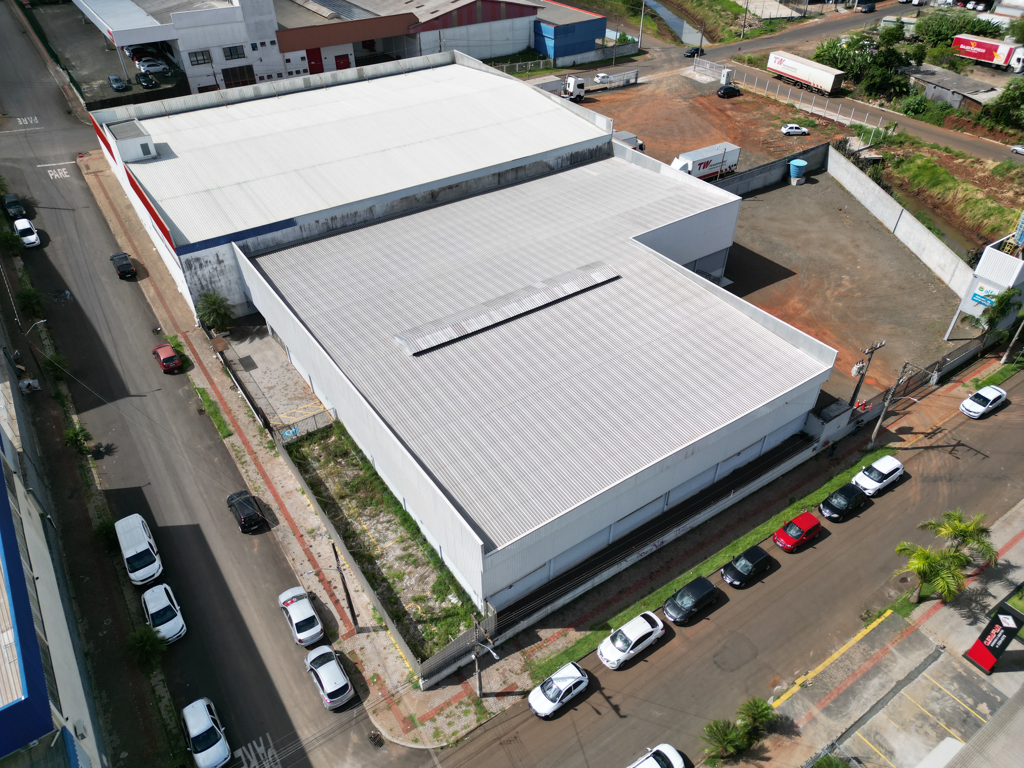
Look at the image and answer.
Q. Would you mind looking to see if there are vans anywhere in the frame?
Yes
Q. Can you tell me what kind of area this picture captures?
industrial area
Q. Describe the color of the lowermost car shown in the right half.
white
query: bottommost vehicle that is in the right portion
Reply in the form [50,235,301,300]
[624,740,686,768]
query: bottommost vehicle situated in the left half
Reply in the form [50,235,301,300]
[180,695,232,768]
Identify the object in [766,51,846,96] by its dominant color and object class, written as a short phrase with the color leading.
white trailer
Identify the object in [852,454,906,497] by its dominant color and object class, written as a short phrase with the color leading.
white car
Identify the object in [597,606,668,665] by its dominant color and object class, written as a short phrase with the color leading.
white car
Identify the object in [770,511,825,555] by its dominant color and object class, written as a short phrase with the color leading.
red car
